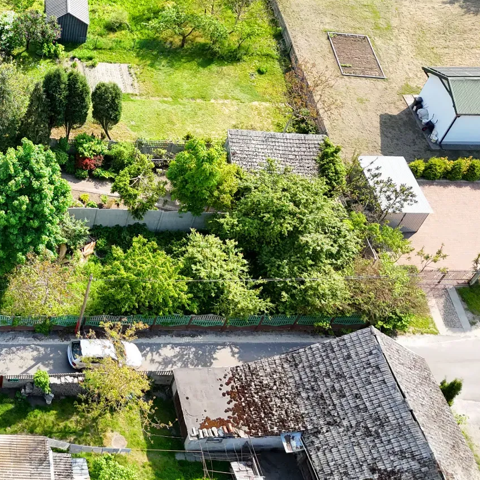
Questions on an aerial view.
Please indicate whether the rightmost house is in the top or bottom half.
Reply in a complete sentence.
The top half of the photo is where the rightmost house is.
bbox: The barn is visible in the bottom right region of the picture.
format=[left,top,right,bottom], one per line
[230,326,480,480]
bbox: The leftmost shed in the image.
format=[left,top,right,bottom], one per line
[0,434,59,480]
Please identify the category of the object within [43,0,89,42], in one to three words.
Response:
shed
